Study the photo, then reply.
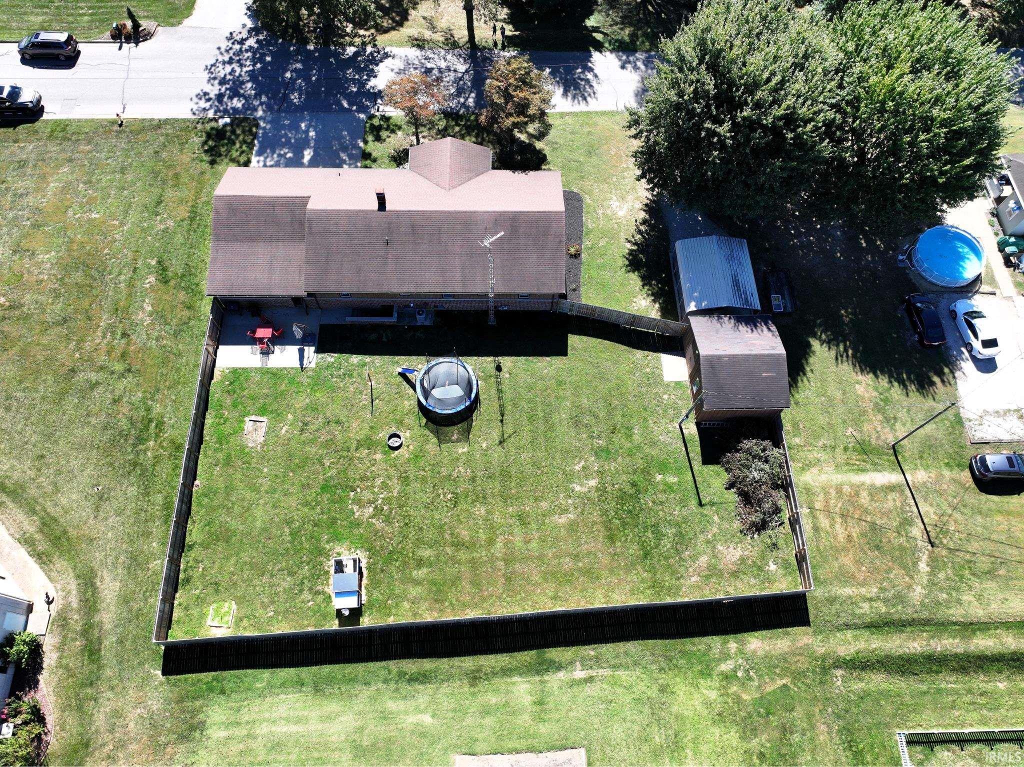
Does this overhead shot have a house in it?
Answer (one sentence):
Yes, a house appears in the view.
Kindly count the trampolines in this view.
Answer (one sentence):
The picture shows 1 trampoline.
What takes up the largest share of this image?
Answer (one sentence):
The scene is dominated by grass.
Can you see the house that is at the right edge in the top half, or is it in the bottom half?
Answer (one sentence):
Seen from above, the house that is at the right edge lies in the top half of the view.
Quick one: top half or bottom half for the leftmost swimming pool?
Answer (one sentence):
The top half of the photo is where the leftmost swimming pool is.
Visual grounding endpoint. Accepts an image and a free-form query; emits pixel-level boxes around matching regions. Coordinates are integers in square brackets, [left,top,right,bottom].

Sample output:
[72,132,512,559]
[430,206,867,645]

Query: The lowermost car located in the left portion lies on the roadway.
[0,86,49,117]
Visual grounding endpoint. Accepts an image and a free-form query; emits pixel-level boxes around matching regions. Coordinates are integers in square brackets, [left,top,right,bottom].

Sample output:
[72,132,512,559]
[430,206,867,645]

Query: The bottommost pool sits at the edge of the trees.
[900,224,985,297]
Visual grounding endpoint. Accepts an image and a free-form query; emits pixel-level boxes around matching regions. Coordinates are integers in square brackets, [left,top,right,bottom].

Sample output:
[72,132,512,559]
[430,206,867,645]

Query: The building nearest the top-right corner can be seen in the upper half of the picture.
[990,151,1024,236]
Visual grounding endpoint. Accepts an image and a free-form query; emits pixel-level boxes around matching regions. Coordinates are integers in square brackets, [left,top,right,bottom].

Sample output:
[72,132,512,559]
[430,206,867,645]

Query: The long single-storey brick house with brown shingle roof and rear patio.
[208,134,566,322]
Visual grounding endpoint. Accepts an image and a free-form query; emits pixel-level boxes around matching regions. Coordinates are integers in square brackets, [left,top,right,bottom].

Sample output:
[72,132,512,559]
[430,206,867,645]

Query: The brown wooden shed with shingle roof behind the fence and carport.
[684,313,792,423]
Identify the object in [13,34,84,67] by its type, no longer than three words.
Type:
car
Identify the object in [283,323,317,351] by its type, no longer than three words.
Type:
umbrella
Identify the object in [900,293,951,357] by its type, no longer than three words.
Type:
car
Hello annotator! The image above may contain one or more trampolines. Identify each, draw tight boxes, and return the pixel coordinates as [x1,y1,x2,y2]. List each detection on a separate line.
[412,346,478,418]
